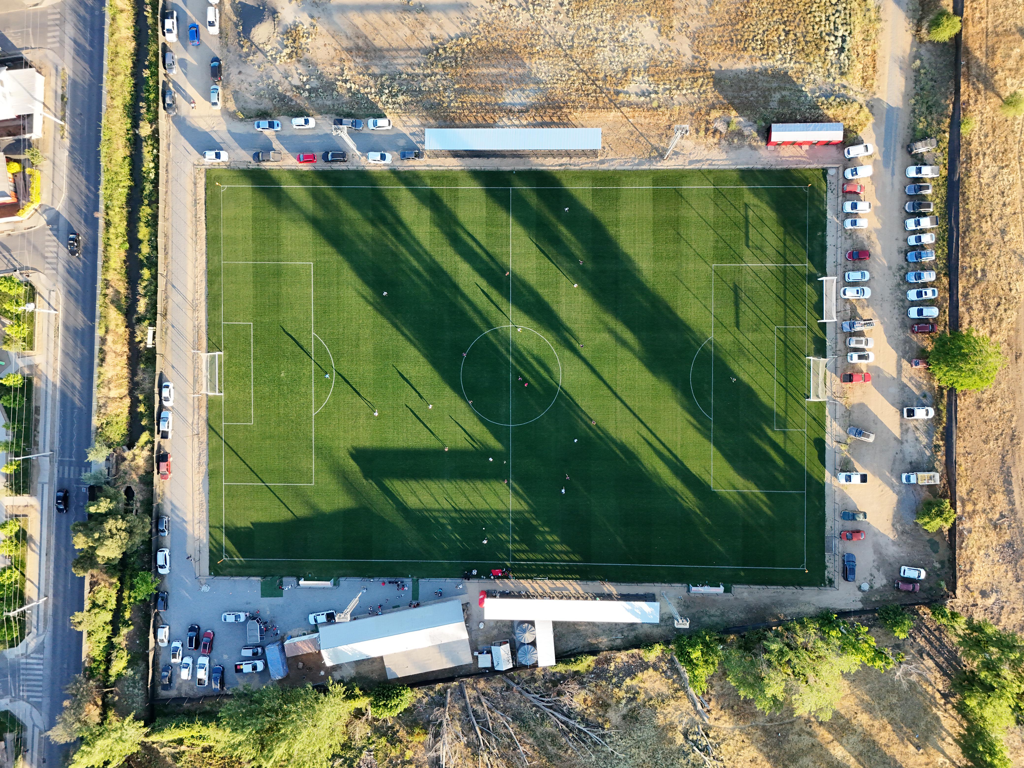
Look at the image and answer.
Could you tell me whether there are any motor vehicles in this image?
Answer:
Yes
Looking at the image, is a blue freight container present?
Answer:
Yes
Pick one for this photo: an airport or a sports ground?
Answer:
sports ground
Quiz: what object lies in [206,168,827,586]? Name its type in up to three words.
soccer field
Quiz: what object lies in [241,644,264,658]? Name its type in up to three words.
car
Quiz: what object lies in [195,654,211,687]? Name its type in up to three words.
vehicle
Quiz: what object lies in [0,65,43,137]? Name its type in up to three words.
house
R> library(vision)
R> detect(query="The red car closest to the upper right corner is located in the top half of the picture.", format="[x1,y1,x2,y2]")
[841,182,864,195]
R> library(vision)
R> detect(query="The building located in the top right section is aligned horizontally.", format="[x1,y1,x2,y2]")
[768,123,843,146]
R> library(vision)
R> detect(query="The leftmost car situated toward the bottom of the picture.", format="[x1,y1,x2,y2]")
[56,488,70,513]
